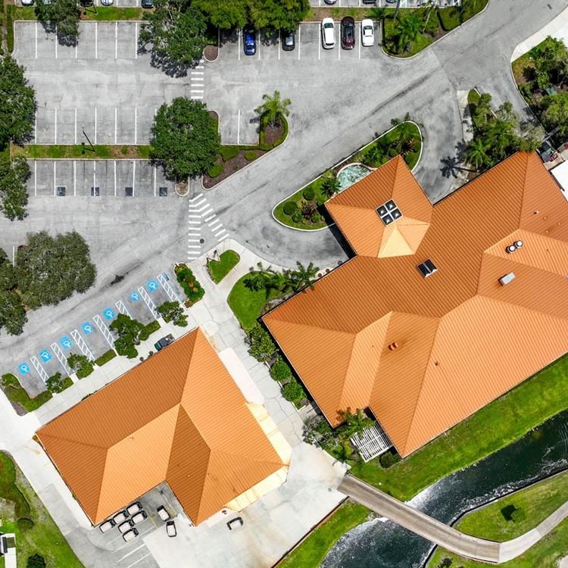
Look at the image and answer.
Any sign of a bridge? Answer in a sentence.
Yes, I can see a bridge in this picture.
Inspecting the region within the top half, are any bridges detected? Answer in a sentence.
No, I can find no bridge within the top half.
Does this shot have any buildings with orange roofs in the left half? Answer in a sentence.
Yes, a building with an orange roof shows up in the left half.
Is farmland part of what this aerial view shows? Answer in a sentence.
No, the picture contains no farmland.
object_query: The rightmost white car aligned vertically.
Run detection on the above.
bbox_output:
[360,17,375,50]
